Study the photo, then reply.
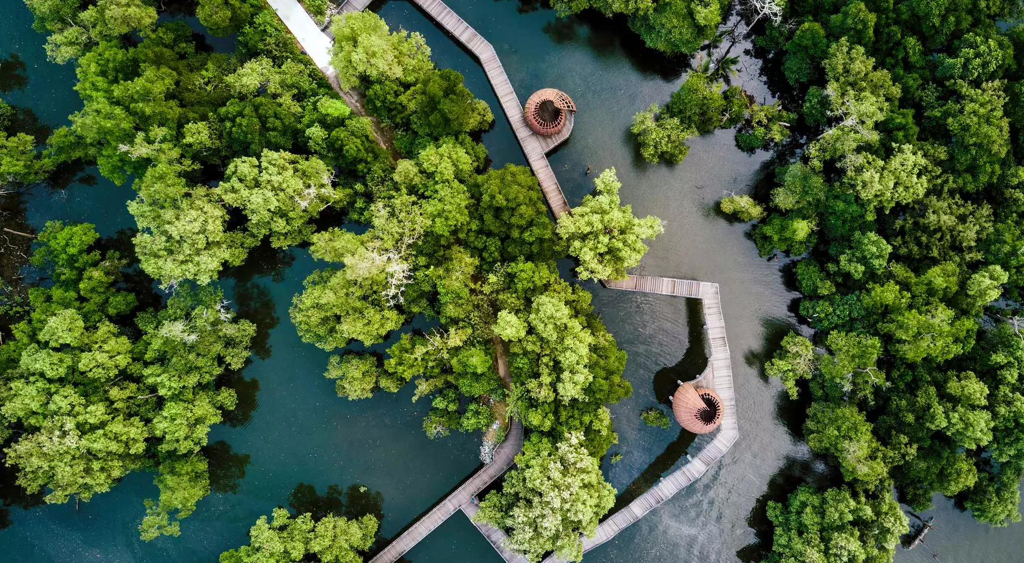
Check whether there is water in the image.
Yes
